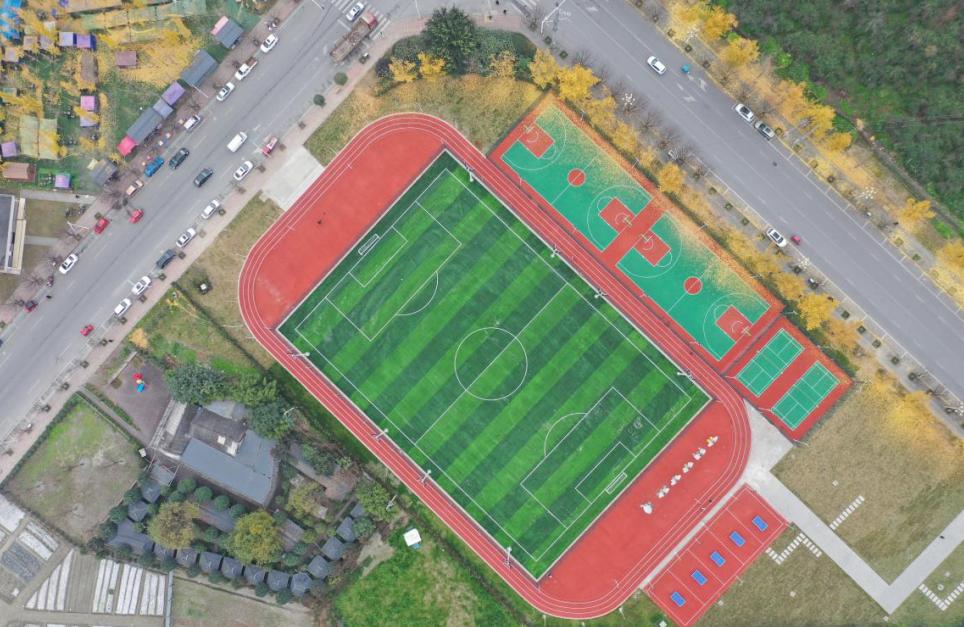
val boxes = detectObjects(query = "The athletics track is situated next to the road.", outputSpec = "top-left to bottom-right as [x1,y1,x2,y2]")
[237,113,750,618]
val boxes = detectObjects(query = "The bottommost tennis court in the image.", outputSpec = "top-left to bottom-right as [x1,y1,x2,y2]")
[643,483,789,627]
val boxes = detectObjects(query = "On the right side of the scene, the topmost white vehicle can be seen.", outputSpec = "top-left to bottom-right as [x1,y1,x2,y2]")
[646,56,667,76]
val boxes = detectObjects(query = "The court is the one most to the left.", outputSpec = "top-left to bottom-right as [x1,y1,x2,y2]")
[502,105,652,252]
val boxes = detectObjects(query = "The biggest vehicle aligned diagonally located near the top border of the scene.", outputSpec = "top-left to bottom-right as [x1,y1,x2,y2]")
[327,10,378,65]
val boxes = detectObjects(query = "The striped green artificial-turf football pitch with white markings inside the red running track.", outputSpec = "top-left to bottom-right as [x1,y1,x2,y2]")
[274,147,714,583]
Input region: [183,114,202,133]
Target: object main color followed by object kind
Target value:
white vehicle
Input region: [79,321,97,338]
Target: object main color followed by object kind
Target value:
red car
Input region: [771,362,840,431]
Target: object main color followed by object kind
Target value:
green sports court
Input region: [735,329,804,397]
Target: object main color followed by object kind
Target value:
green sports court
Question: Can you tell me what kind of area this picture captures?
sports ground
